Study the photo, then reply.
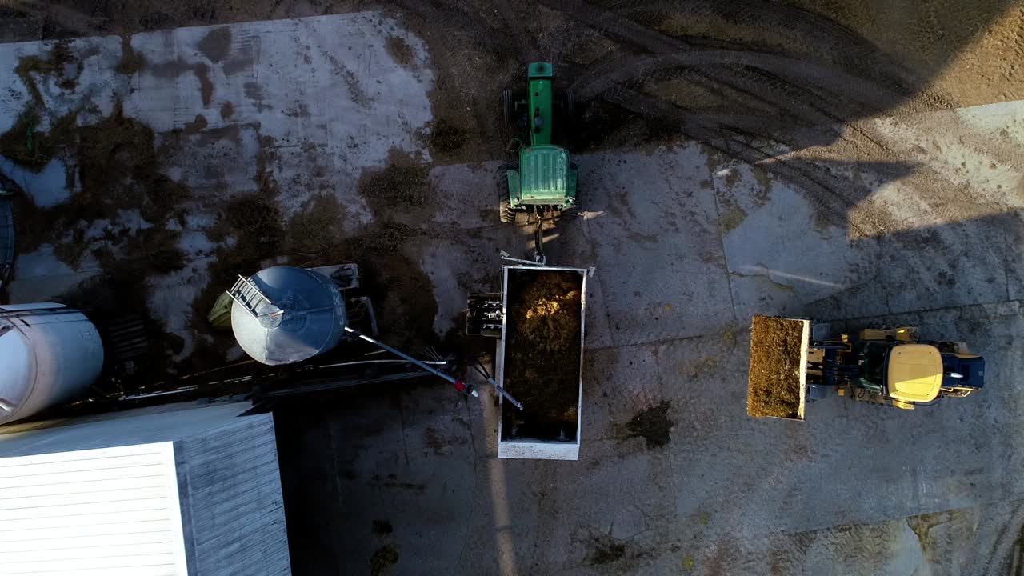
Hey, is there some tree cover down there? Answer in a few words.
No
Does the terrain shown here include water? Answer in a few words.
No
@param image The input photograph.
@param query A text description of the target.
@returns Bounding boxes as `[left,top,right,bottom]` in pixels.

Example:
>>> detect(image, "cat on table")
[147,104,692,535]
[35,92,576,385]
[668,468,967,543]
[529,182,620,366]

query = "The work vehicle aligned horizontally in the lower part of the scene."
[746,316,981,422]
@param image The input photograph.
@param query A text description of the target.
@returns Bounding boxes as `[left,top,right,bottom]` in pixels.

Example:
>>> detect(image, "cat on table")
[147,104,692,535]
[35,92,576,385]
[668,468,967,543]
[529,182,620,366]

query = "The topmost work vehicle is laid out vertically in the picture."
[499,63,583,253]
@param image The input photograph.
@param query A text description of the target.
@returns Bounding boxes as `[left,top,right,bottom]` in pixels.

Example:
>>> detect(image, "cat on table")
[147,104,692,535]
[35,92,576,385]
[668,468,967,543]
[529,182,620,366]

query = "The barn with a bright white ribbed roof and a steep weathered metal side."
[0,402,291,576]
